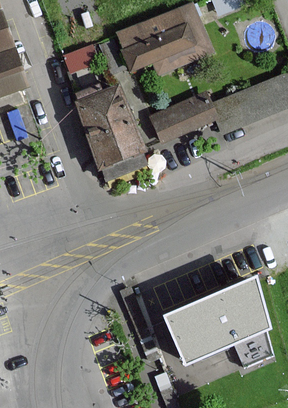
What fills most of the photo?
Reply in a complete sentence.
What you mostly see from above here is paved ground.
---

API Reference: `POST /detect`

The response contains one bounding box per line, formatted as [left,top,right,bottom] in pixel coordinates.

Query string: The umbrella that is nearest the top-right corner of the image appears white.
[148,154,166,172]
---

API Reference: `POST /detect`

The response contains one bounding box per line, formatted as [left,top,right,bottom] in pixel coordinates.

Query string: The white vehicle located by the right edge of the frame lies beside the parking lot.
[262,246,276,268]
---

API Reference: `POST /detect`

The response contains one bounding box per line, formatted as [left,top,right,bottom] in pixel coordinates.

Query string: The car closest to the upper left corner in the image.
[28,0,42,17]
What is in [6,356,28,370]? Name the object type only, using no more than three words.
vehicle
